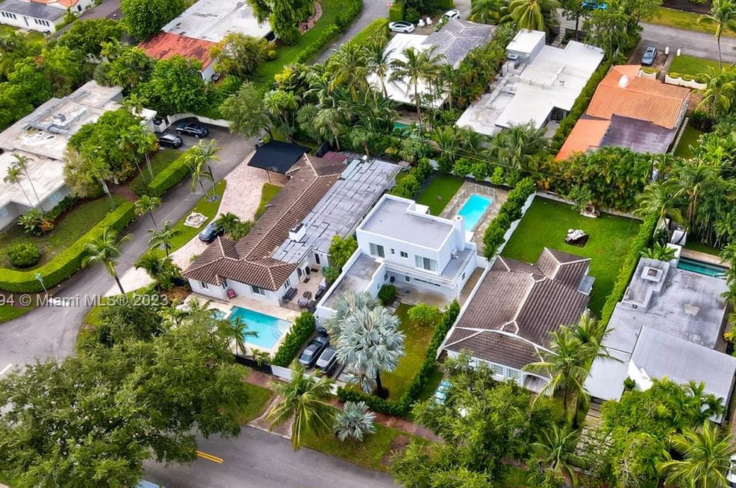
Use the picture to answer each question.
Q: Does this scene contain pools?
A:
Yes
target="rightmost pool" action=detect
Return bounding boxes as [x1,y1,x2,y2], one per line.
[681,259,735,284]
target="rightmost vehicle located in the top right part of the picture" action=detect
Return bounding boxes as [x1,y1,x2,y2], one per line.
[640,43,657,65]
